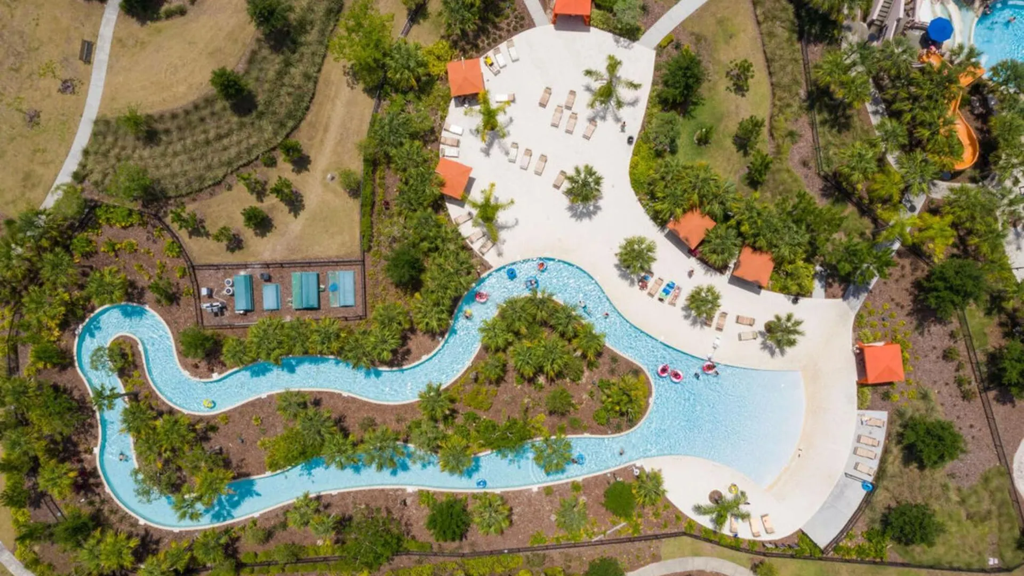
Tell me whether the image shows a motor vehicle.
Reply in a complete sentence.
No, the photo shows no motor vehicle.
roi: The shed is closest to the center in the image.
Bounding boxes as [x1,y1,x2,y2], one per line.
[329,271,356,306]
